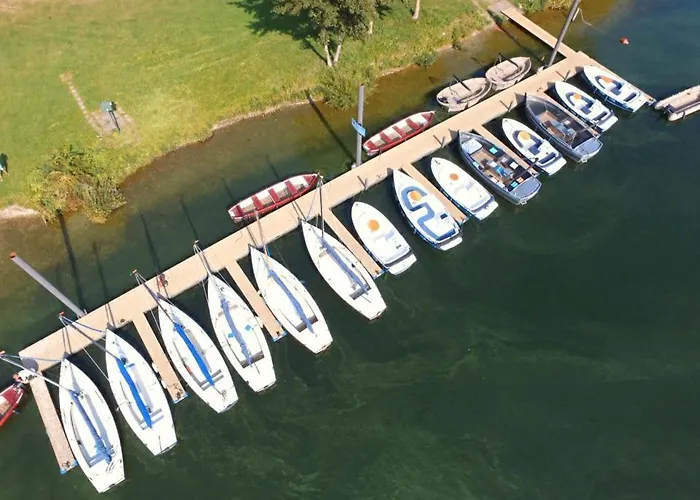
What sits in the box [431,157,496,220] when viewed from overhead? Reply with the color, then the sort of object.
white boat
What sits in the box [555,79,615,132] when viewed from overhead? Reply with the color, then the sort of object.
white boat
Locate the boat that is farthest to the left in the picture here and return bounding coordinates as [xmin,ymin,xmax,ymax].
[0,384,21,428]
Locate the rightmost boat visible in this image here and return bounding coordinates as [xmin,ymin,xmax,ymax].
[653,88,700,120]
